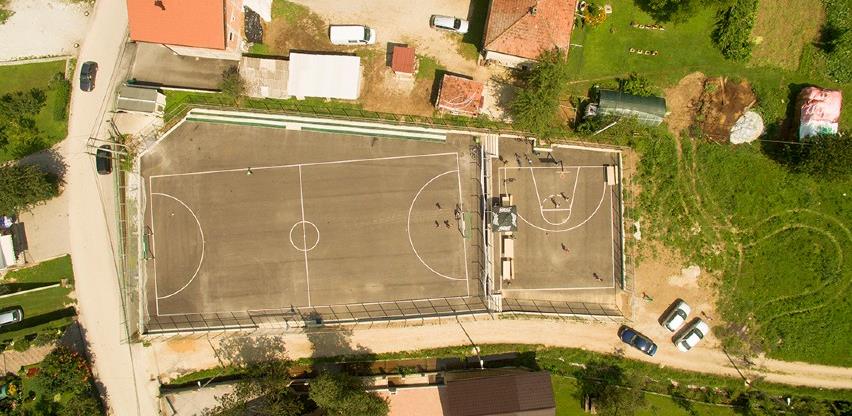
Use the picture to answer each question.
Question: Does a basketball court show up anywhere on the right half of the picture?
Yes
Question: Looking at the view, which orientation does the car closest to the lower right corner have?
diagonally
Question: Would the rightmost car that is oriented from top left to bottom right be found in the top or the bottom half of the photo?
bottom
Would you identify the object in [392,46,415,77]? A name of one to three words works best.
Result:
shed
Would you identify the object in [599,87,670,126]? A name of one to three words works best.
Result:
greenhouse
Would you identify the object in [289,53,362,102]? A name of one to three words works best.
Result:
shed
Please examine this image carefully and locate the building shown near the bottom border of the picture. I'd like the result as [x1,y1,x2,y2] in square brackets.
[444,366,555,416]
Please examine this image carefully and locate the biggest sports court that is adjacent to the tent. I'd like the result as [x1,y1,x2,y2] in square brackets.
[140,117,488,332]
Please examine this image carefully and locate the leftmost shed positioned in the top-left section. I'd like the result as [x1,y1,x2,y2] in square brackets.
[116,87,166,111]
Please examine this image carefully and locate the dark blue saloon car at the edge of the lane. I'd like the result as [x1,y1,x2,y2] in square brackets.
[619,326,656,355]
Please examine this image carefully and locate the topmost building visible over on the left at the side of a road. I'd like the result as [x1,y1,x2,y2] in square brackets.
[127,0,246,60]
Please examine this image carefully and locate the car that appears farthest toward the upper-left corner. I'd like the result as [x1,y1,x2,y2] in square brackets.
[79,62,98,92]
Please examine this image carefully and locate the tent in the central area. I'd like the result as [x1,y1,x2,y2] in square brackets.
[490,206,516,231]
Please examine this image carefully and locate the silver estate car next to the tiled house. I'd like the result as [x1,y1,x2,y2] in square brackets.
[430,15,468,34]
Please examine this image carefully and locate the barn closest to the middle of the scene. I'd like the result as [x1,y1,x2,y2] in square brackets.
[438,74,483,116]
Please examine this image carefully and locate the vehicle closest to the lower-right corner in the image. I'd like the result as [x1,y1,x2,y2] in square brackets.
[675,319,708,354]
